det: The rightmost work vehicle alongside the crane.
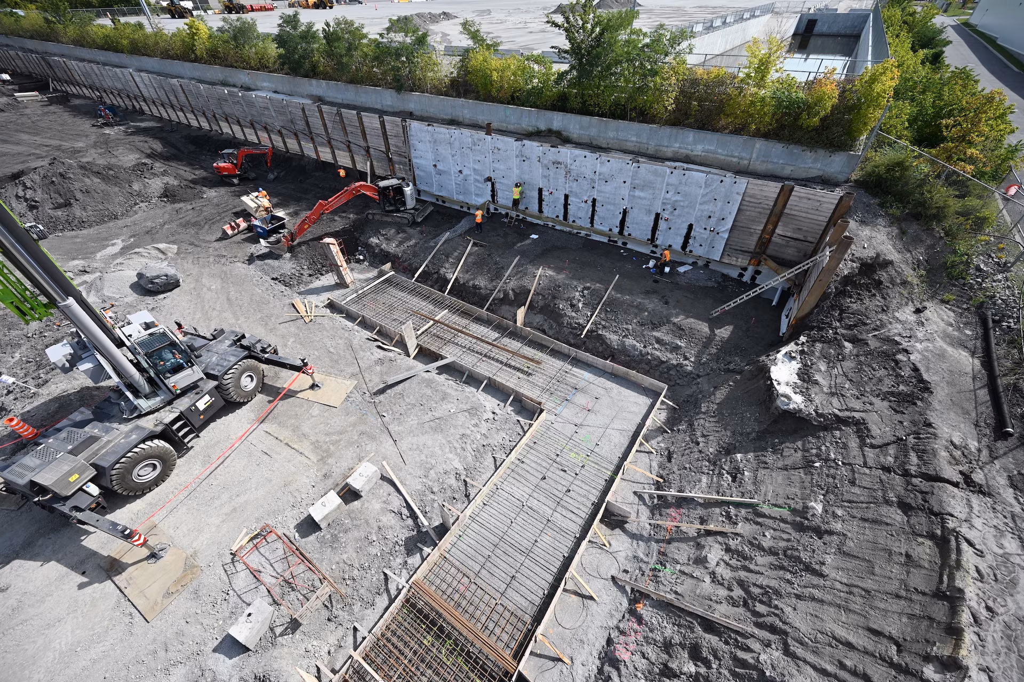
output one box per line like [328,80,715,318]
[258,175,436,255]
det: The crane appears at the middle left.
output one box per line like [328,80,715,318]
[0,201,324,570]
